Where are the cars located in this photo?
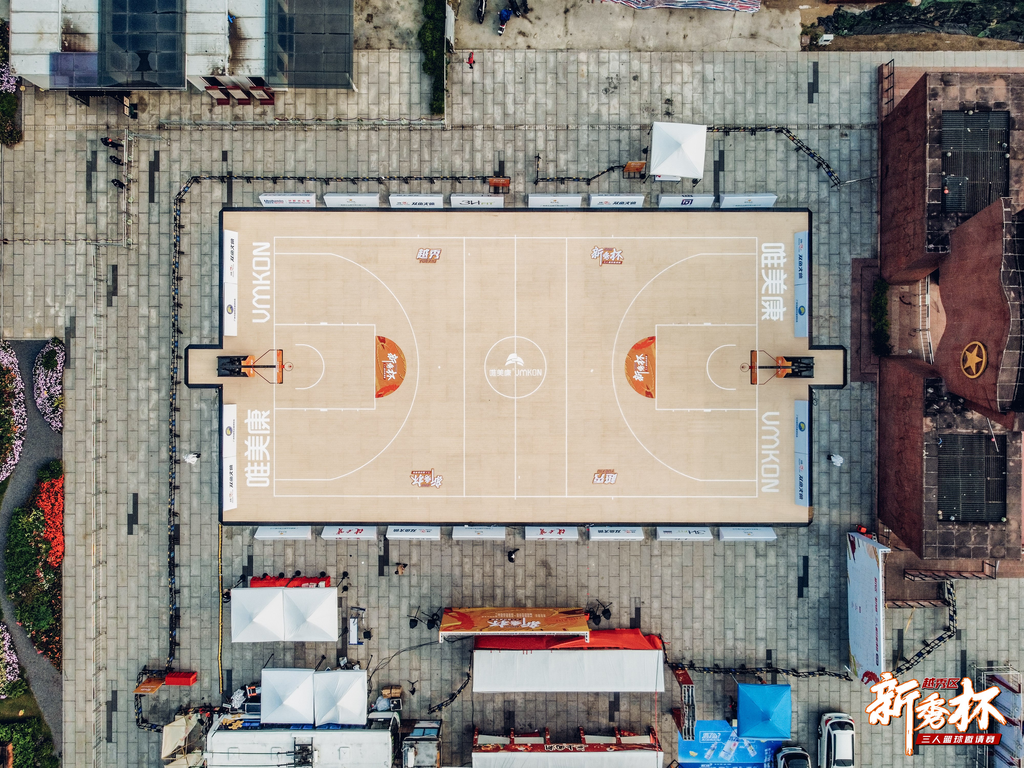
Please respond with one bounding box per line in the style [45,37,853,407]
[775,743,811,768]
[818,712,860,768]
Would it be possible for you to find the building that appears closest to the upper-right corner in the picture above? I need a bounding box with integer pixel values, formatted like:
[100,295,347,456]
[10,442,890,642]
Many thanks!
[882,72,1024,284]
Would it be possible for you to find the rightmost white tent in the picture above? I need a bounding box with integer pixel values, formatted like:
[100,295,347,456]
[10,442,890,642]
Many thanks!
[643,122,707,187]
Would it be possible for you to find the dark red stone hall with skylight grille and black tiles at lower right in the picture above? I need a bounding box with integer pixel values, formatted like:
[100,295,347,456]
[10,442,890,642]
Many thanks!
[881,358,1024,559]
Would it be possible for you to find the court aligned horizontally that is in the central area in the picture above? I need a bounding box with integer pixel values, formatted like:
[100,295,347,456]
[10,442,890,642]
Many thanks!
[184,207,847,526]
